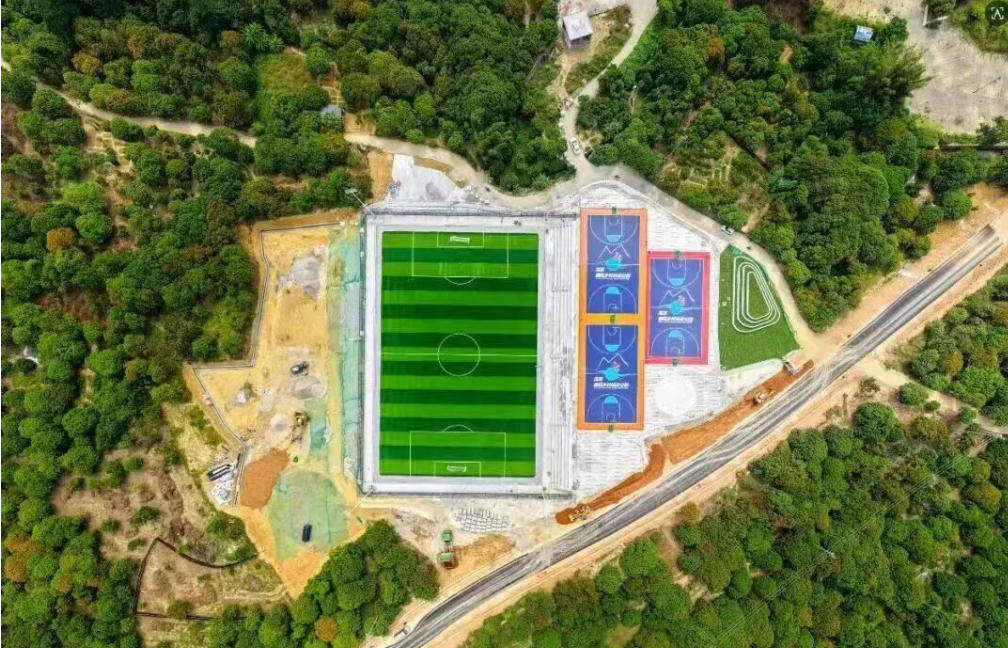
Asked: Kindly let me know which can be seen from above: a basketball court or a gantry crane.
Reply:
basketball court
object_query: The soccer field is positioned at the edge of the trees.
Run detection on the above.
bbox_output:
[380,231,537,476]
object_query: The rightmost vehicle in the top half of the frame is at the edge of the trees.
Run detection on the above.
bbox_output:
[720,224,736,236]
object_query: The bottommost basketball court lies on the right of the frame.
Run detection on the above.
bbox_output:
[578,319,646,430]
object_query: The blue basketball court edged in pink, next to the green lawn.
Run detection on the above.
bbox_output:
[646,252,710,364]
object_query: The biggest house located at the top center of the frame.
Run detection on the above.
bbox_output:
[567,10,598,47]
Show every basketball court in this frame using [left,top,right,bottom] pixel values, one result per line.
[646,252,710,364]
[578,319,646,430]
[579,208,648,319]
